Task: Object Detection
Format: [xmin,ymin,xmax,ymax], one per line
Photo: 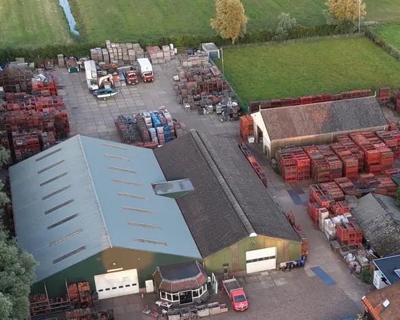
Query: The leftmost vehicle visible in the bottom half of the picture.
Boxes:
[224,281,247,307]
